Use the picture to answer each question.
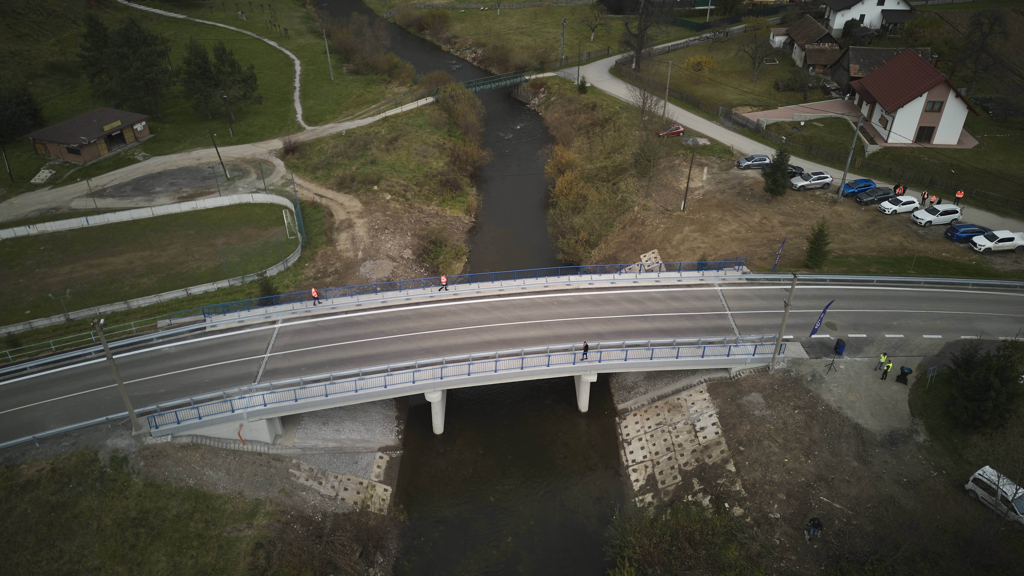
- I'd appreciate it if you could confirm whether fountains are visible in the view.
No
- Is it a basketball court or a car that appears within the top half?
car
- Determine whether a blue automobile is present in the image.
Yes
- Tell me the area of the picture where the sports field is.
left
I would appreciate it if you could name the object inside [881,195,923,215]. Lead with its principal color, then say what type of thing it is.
white car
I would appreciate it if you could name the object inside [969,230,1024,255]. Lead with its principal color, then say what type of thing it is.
white truck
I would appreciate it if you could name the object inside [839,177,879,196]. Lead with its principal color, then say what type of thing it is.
blue car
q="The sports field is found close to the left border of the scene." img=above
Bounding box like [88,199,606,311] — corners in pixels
[0,191,300,336]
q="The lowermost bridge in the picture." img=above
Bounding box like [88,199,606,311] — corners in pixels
[152,256,785,445]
